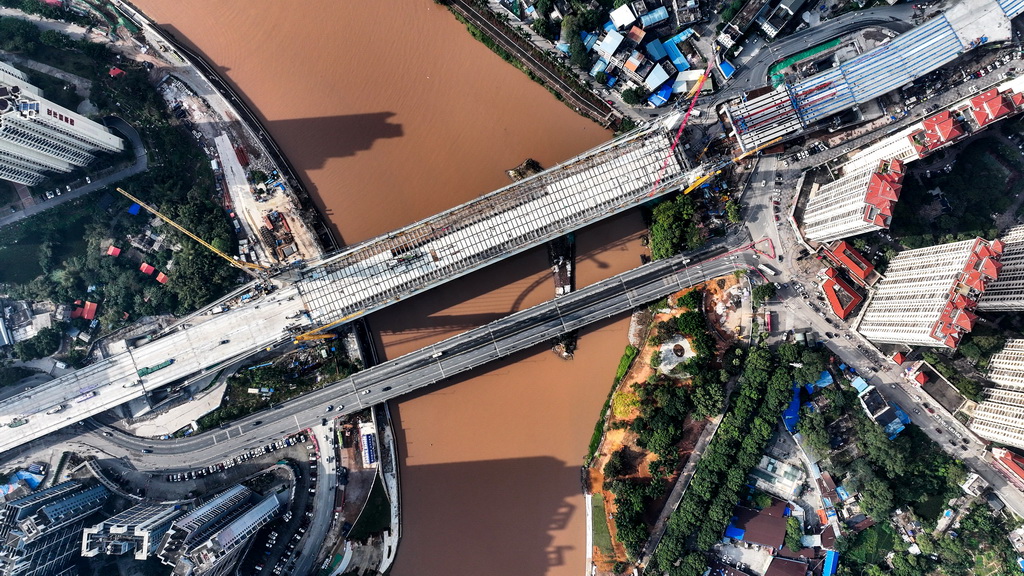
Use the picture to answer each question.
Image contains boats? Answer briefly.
No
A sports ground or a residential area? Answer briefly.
residential area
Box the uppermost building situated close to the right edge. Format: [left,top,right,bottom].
[842,72,1024,172]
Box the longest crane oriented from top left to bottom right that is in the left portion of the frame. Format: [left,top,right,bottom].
[117,187,266,281]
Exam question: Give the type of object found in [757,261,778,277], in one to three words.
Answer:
vehicle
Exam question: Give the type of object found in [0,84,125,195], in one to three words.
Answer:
building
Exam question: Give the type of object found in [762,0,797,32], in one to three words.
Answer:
house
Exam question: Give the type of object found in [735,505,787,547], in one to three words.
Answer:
shed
